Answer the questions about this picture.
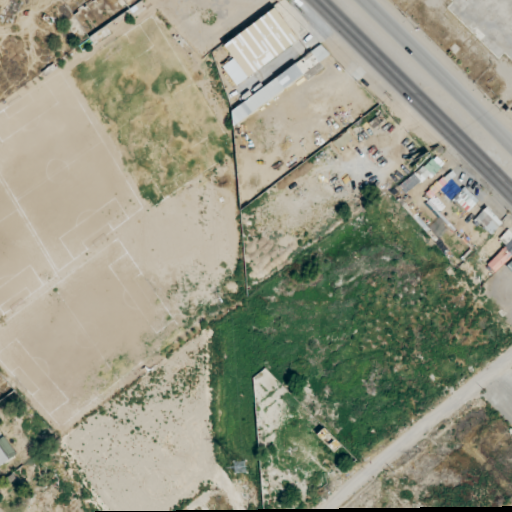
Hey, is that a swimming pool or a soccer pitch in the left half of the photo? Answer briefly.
soccer pitch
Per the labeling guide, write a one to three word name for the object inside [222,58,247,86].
shed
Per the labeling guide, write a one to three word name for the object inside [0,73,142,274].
soccer field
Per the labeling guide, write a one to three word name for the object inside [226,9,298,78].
building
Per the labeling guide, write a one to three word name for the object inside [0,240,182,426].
soccer field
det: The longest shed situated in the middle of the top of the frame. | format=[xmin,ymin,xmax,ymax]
[228,44,330,124]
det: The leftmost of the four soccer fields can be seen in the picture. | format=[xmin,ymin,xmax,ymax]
[0,180,56,318]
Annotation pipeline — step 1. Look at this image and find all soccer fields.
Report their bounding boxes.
[0,180,56,318]
[0,240,182,426]
[0,73,142,274]
[65,18,232,204]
